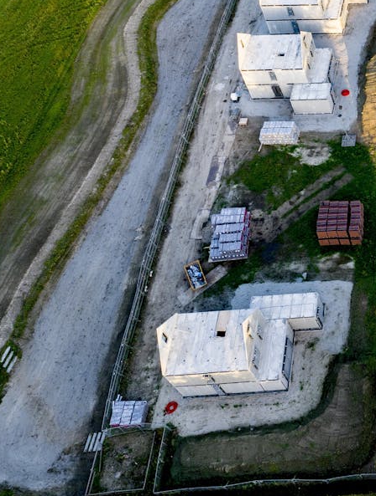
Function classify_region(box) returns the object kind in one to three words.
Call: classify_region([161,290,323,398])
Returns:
house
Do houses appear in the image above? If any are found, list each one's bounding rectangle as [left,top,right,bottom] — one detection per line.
[260,0,368,33]
[161,290,323,398]
[241,35,339,114]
